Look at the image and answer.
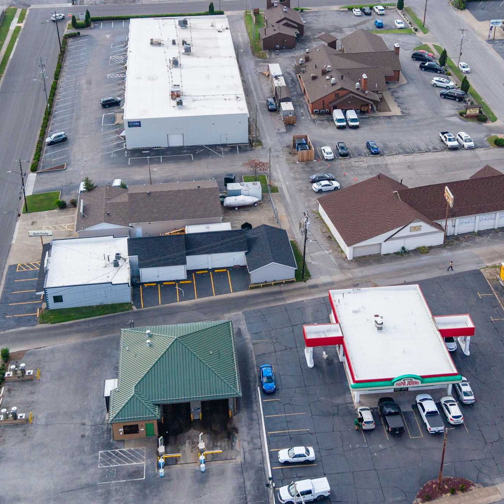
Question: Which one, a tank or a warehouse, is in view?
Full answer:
The image shows a warehouse.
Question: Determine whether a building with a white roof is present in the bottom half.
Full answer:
Yes, a building with a white roof can be seen in the bottom half.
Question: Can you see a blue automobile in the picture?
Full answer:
Yes, you can see a blue automobile in this photo.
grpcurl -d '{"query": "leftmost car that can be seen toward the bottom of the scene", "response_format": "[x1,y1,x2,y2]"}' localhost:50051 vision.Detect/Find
[258,364,276,392]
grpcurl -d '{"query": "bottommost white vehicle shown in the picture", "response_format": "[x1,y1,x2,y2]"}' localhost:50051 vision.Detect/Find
[276,478,333,504]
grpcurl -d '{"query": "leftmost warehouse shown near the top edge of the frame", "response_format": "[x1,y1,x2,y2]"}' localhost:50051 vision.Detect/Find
[118,15,248,150]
